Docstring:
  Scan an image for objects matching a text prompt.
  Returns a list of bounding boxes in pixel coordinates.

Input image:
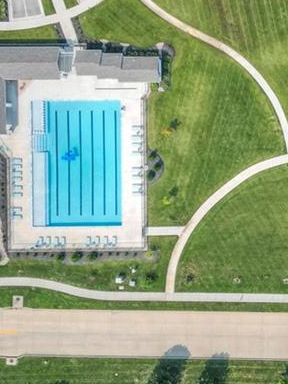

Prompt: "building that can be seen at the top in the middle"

[71,50,161,82]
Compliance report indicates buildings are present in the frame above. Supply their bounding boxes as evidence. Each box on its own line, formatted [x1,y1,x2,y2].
[71,50,161,82]
[0,47,64,135]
